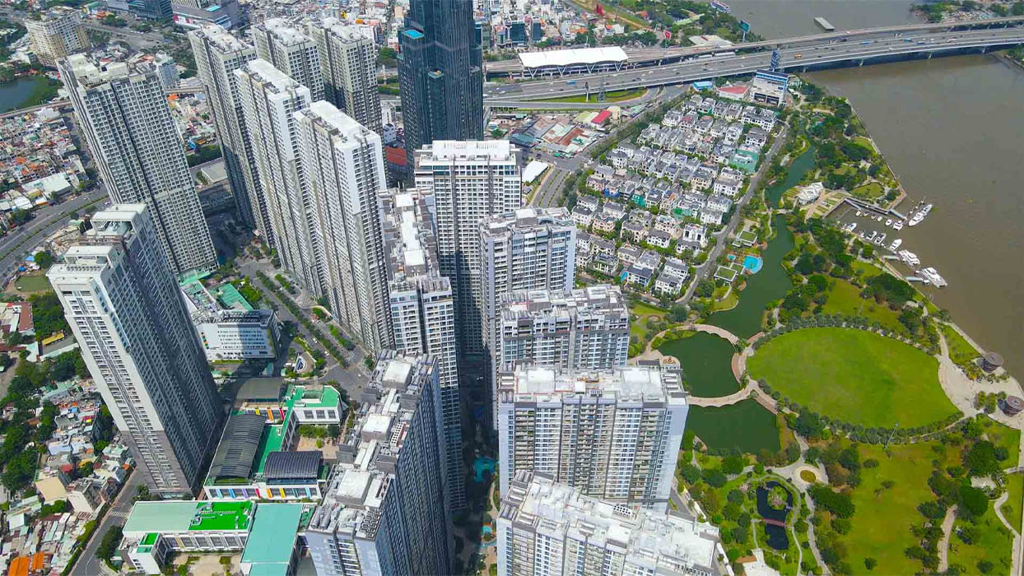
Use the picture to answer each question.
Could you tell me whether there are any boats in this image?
Yes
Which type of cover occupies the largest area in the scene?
buildings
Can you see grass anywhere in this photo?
Yes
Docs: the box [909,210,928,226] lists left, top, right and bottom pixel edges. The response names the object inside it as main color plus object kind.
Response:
white boat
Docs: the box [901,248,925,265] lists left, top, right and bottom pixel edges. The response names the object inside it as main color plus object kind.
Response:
white boat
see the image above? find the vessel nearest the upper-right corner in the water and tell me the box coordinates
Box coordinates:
[813,16,836,30]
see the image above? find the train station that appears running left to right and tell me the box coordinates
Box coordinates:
[520,52,628,77]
